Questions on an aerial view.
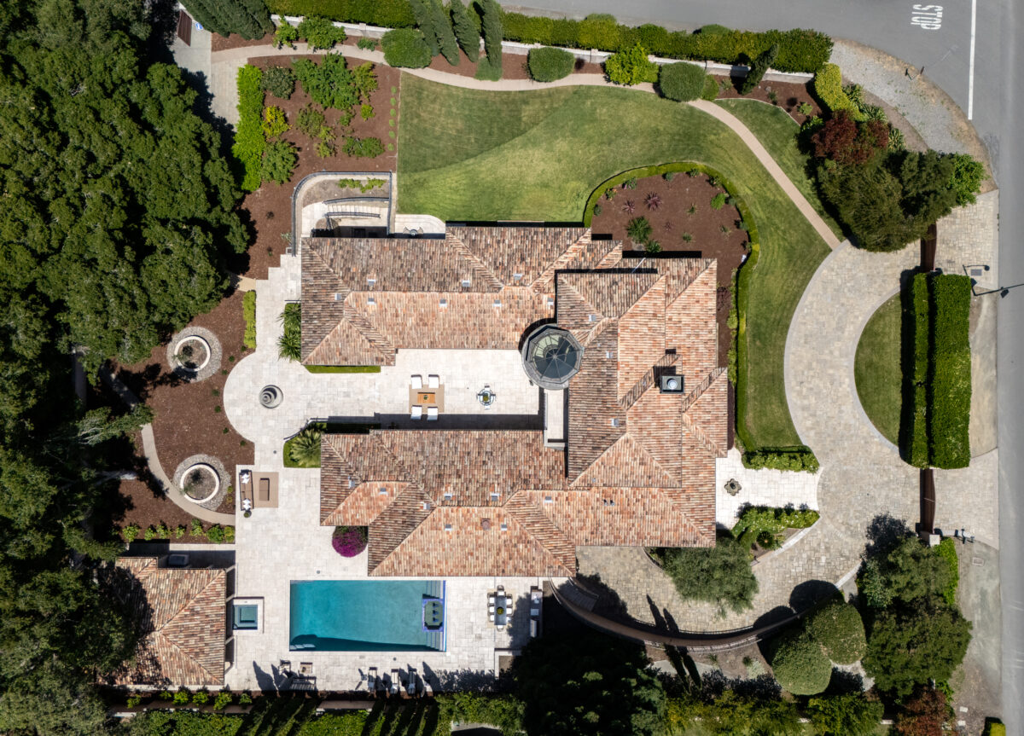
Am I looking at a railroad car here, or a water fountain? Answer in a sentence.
There is a water fountain in the scene.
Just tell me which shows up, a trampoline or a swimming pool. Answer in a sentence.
Of the two, only a swimming pool appears.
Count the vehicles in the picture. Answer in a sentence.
No vehicles are visible.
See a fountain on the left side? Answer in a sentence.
Yes, looking on the left side, one can make out a fountain.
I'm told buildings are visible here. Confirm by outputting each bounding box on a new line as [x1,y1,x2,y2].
[94,554,238,687]
[300,225,728,577]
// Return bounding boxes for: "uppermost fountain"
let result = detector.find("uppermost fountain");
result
[257,385,283,409]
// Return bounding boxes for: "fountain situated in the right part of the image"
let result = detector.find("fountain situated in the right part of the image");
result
[725,479,743,496]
